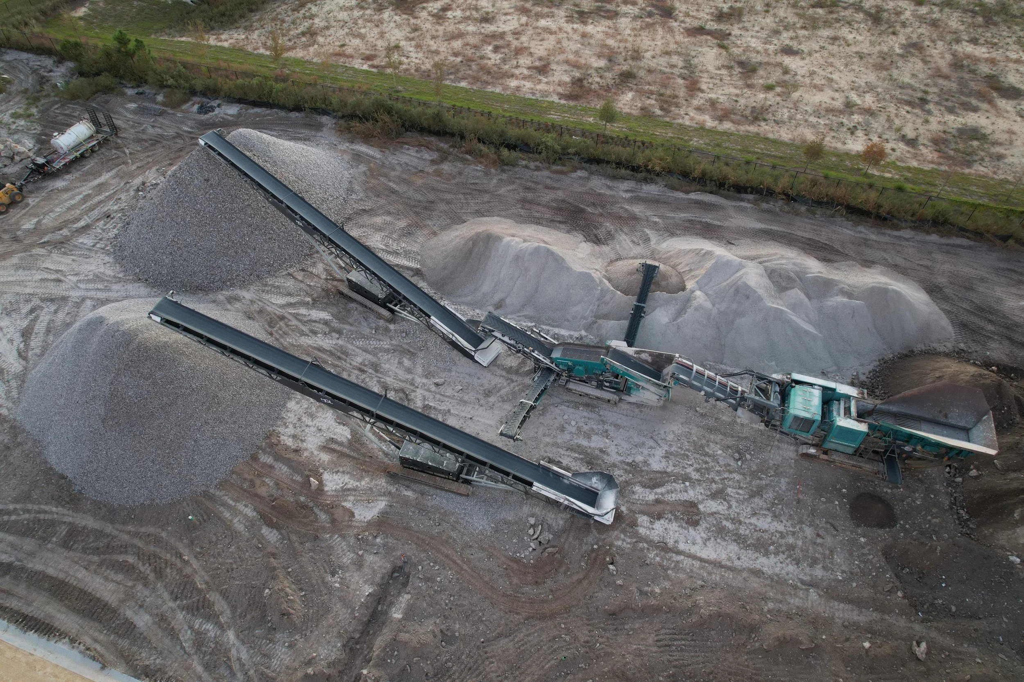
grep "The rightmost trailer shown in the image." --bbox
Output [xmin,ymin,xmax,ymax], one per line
[12,113,123,187]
